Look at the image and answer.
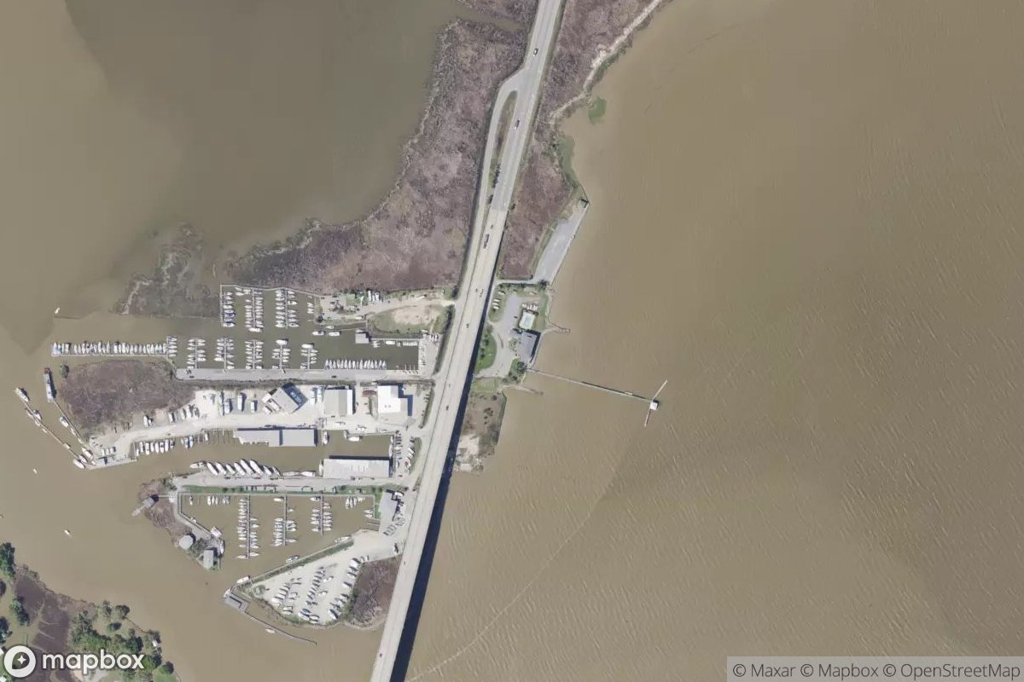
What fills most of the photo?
water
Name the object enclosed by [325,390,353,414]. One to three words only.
building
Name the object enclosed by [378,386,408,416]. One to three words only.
building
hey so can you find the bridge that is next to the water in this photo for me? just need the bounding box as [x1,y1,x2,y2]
[370,209,509,682]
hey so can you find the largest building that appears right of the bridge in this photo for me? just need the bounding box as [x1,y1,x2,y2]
[518,331,537,363]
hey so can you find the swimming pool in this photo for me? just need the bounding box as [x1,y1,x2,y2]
[520,311,535,329]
